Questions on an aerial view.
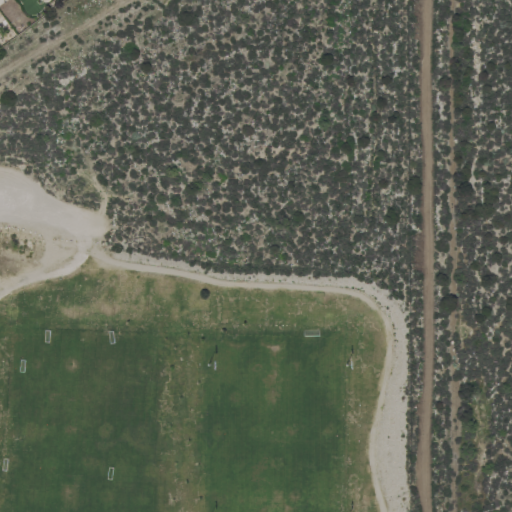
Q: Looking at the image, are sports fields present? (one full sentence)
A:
Yes, the frame does contain a sports field.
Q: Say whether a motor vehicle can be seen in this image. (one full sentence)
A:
No, I can see no motor vehicle in this picture.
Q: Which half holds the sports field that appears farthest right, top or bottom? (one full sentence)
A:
The sports field that appears farthest right is in the bottom half of the image.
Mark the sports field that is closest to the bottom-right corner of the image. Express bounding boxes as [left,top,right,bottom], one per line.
[204,332,346,512]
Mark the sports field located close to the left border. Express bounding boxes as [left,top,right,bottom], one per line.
[10,330,160,512]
